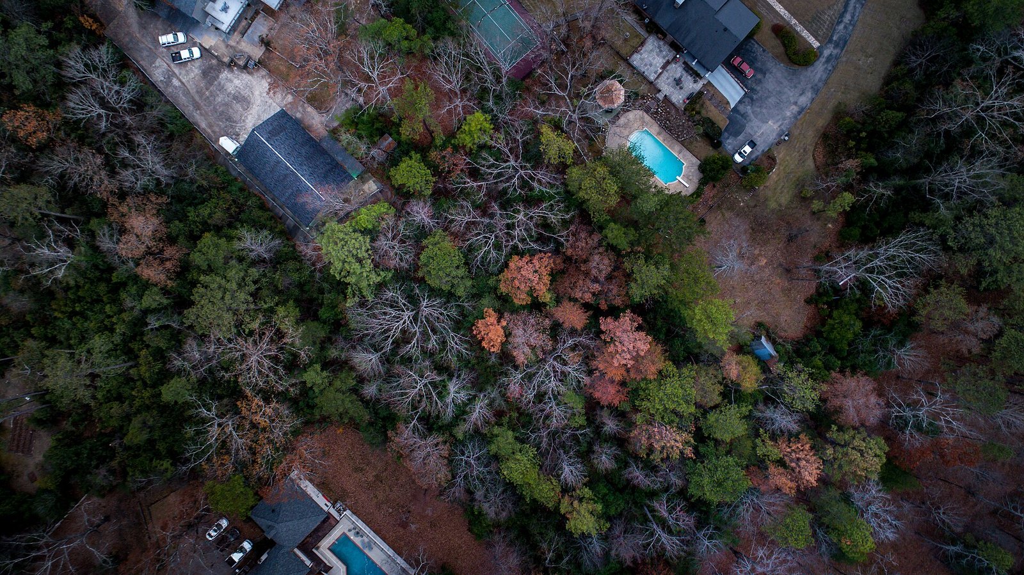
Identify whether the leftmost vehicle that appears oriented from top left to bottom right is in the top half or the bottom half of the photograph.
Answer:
top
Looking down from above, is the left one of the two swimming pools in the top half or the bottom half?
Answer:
bottom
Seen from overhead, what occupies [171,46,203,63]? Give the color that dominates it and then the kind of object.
white vehicle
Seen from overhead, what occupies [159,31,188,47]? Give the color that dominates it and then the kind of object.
white car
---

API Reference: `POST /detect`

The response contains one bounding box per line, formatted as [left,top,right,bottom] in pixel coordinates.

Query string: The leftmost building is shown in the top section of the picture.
[164,0,259,38]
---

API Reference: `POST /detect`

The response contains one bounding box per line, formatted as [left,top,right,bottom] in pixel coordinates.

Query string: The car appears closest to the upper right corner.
[729,55,754,78]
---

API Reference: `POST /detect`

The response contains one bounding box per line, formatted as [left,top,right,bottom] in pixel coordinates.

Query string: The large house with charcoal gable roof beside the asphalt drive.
[628,0,760,78]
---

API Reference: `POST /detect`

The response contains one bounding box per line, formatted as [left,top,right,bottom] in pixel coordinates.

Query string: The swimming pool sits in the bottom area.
[312,514,418,575]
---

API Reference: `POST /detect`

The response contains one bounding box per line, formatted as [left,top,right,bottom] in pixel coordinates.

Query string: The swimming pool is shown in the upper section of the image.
[607,110,704,193]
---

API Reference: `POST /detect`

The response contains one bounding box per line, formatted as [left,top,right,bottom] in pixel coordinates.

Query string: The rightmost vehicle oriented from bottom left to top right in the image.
[732,138,758,165]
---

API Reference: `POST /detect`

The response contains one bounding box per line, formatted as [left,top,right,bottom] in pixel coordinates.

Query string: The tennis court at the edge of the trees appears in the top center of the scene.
[457,0,539,65]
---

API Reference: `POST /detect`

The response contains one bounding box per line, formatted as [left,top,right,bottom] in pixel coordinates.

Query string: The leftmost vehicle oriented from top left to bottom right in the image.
[216,135,241,157]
